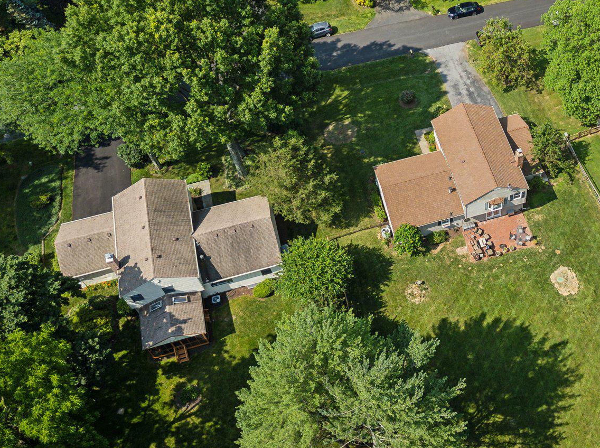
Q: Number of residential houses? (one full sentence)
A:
The count of residential houses comes to 2.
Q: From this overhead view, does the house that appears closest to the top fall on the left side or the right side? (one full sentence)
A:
You can find the house that appears closest to the top on the right side of the picture.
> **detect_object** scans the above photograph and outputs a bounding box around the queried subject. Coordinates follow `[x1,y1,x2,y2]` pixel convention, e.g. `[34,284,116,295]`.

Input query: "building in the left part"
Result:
[54,179,282,362]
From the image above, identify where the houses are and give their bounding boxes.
[373,102,545,240]
[54,179,282,362]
